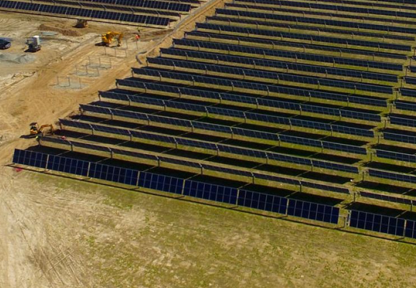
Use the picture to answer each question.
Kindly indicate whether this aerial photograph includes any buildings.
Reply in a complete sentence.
No, no building is visible in the view.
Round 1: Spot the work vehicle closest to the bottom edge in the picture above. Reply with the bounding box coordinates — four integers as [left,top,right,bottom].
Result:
[30,121,59,135]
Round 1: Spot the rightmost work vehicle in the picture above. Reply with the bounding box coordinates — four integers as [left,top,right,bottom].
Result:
[99,30,128,45]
